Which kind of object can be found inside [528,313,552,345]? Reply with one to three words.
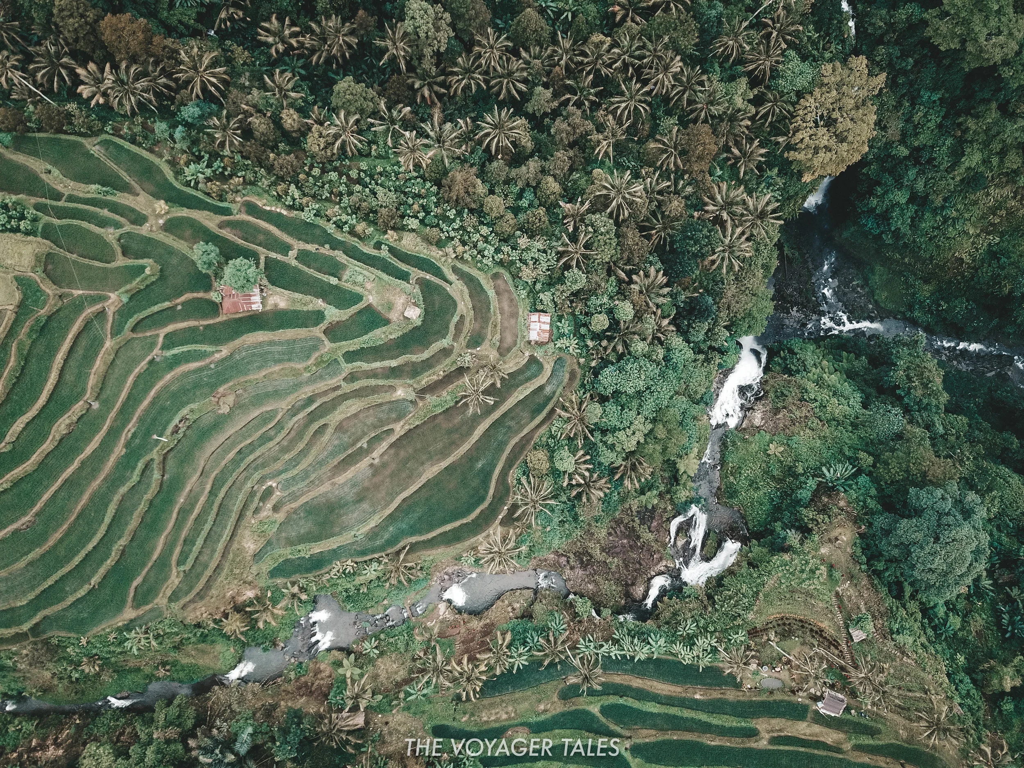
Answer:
shed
